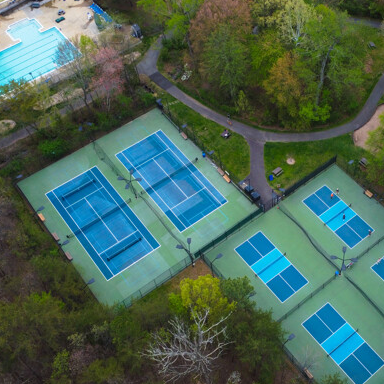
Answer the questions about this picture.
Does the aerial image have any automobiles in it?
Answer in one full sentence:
No, the picture doesn't show any automobile.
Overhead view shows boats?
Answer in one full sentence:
No, I can't see a single boat in this photo.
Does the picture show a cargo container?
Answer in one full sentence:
No, I find no cargo container anywhere in the image.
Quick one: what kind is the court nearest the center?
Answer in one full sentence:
In the photo, the court nearest the center shows up as a tennis court.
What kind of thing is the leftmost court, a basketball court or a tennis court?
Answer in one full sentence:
The leftmost court is a tennis court.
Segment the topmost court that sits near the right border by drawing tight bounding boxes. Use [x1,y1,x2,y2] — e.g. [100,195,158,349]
[303,185,374,248]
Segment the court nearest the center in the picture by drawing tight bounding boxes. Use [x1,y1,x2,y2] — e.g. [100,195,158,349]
[115,128,228,235]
